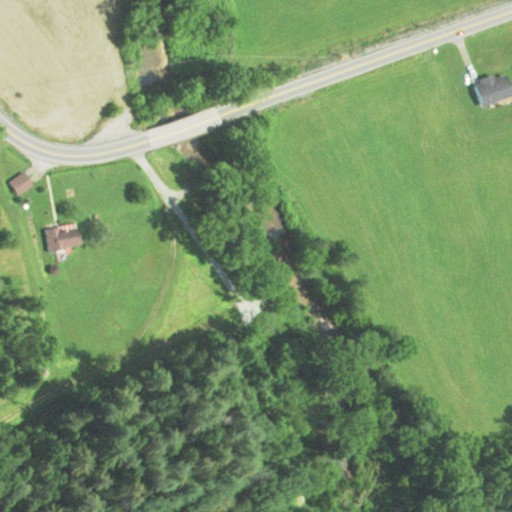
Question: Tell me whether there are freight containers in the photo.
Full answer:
No, I can see no freight container in this picture.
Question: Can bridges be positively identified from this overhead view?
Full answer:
Yes, a bridge is visible in the scene.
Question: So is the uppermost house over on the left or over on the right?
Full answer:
The uppermost house is on the right side of the image.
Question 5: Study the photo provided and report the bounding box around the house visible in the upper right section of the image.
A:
[475,76,512,110]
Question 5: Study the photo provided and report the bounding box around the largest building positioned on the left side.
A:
[43,226,83,260]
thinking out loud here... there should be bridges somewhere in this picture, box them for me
[148,109,222,151]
